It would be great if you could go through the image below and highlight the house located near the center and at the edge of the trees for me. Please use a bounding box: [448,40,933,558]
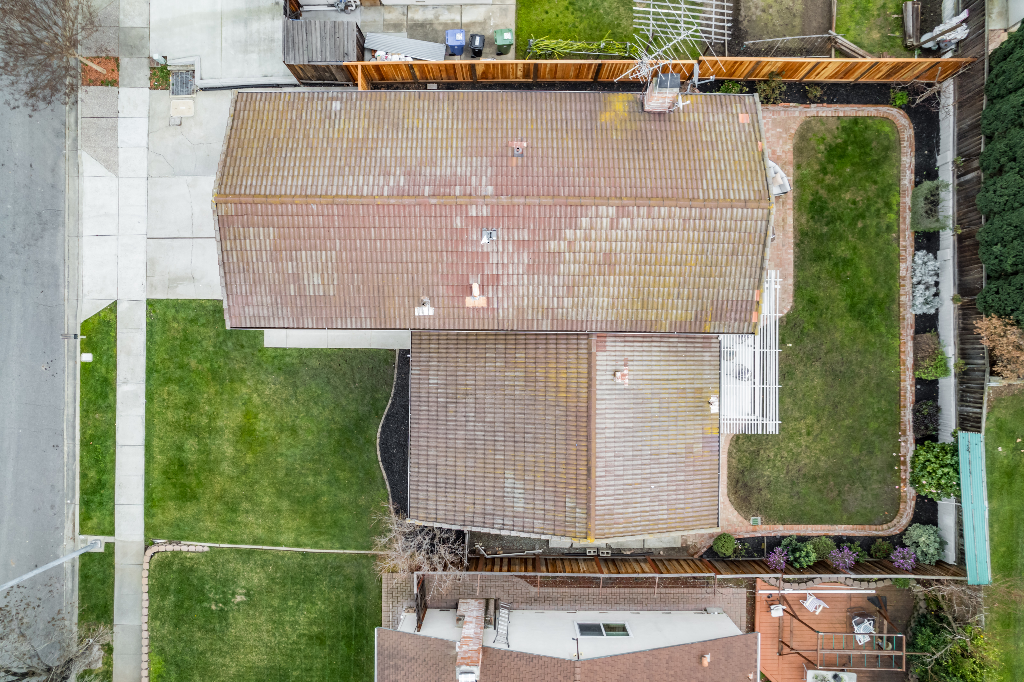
[209,72,774,546]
